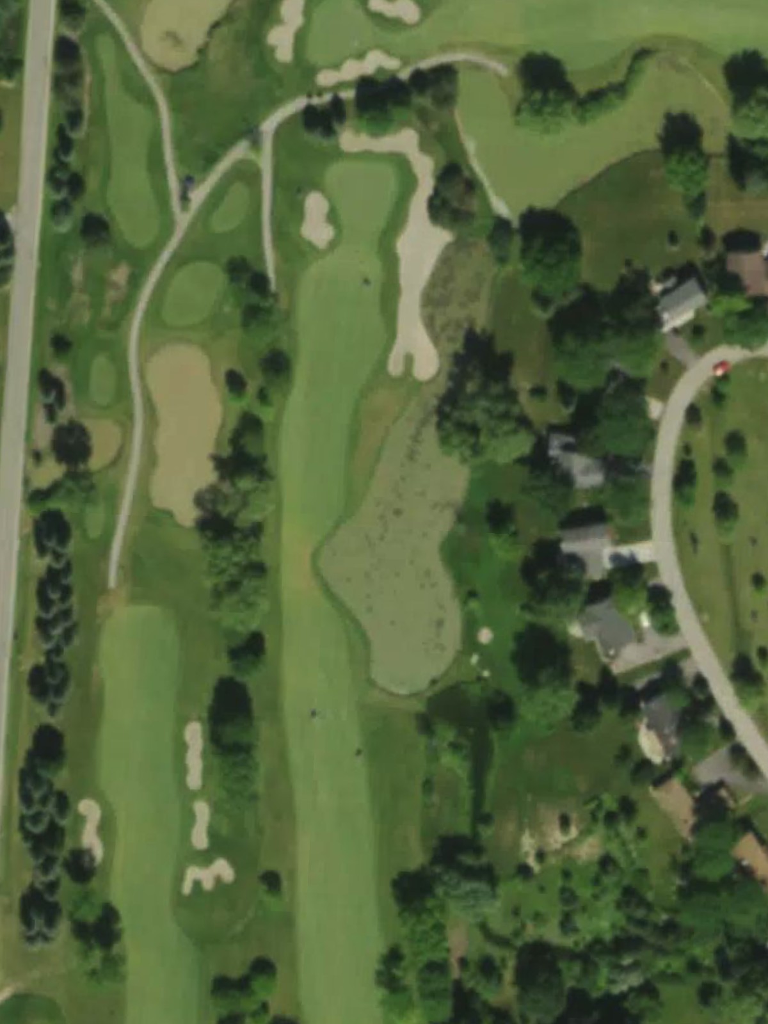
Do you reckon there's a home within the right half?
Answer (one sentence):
Yes, a home can be seen within the right half.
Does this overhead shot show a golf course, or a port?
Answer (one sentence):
The picture captures a golf course.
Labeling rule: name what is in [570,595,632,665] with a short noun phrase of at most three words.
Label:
house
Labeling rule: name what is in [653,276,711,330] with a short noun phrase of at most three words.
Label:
house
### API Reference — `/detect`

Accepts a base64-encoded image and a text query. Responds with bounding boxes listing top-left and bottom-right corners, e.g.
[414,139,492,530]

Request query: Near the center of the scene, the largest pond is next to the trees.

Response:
[303,374,480,703]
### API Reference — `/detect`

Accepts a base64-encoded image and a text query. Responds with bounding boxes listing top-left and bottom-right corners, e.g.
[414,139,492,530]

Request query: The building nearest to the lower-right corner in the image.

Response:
[734,835,768,879]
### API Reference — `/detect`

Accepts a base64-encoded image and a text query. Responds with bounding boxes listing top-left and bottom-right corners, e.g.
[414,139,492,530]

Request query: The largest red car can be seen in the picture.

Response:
[714,362,730,374]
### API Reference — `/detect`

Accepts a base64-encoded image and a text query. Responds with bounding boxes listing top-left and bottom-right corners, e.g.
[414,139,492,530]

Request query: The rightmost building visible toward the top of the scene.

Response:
[729,248,768,300]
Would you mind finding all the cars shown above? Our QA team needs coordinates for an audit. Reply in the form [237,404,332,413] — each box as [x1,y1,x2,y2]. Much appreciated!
[639,612,650,628]
[714,362,730,374]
